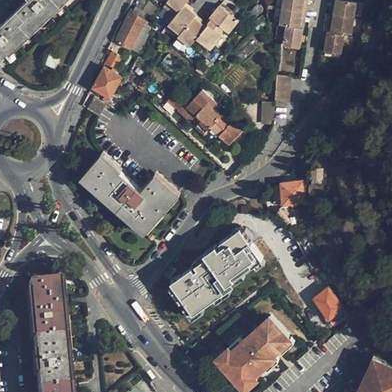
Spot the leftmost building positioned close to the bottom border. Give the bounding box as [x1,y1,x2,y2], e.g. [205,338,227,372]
[28,270,78,392]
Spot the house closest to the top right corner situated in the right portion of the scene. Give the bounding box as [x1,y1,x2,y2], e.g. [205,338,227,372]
[331,0,357,35]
